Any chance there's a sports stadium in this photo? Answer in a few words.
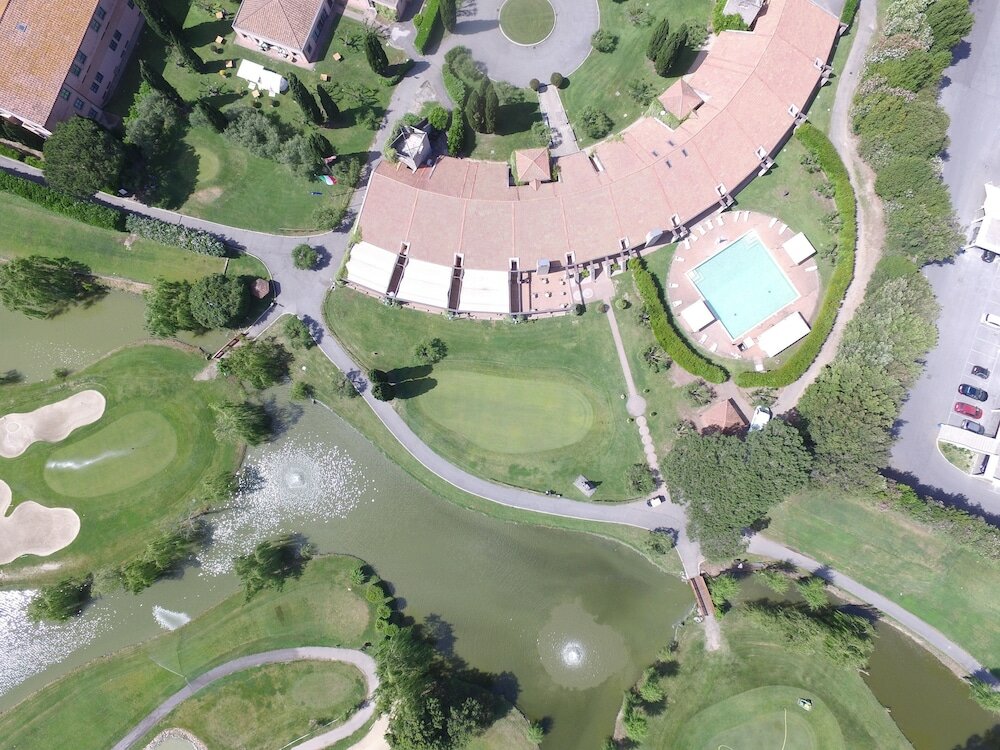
No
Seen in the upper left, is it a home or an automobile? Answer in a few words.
home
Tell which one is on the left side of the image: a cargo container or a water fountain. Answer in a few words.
water fountain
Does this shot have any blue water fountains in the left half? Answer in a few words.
No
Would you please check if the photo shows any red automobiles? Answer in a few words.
Yes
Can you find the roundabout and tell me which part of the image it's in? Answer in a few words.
top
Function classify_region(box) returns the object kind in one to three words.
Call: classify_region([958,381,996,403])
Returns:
car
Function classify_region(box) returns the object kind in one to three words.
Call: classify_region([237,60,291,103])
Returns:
tent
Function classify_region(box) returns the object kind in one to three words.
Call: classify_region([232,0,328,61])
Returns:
house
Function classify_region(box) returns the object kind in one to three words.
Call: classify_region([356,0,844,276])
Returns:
building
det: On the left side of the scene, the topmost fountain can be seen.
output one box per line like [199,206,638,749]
[261,452,328,510]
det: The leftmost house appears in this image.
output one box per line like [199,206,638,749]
[0,0,140,134]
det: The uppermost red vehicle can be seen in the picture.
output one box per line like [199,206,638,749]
[954,400,989,421]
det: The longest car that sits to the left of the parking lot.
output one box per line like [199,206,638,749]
[750,404,773,437]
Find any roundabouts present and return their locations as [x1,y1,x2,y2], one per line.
[455,0,600,88]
